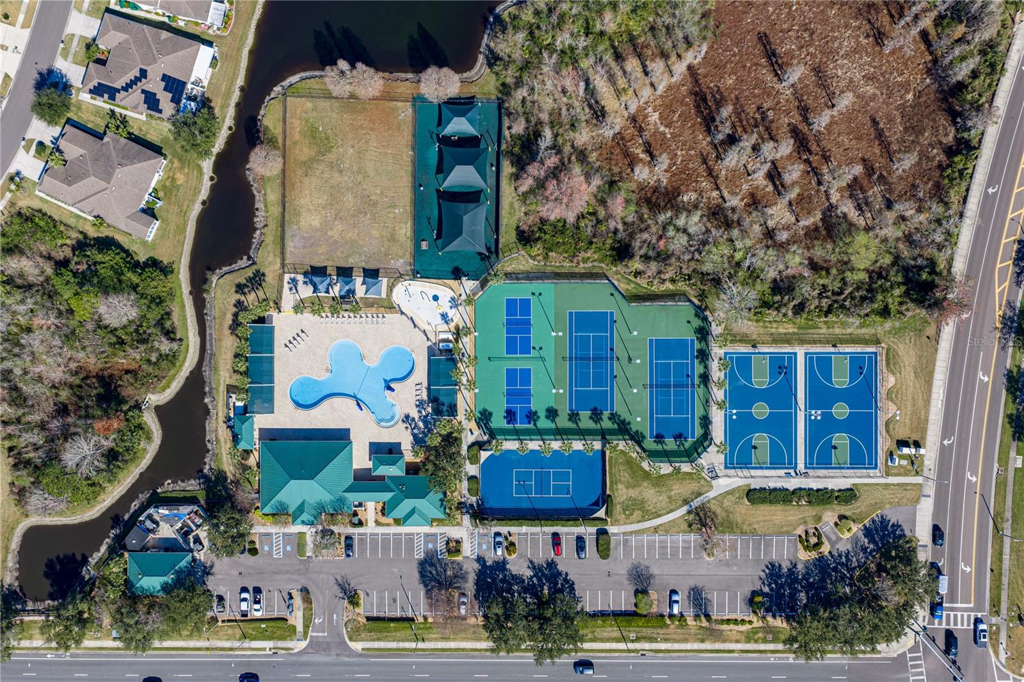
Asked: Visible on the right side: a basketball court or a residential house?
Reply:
basketball court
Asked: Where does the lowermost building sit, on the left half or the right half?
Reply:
left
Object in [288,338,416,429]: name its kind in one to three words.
swimming pool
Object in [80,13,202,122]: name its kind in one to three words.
house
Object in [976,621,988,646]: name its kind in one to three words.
vehicle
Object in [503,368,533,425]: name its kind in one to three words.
sports court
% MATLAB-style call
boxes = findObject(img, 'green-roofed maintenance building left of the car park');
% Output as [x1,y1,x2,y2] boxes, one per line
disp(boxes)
[127,552,195,595]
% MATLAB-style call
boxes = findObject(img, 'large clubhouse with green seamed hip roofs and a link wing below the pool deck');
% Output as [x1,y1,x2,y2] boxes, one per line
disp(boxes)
[260,441,445,526]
